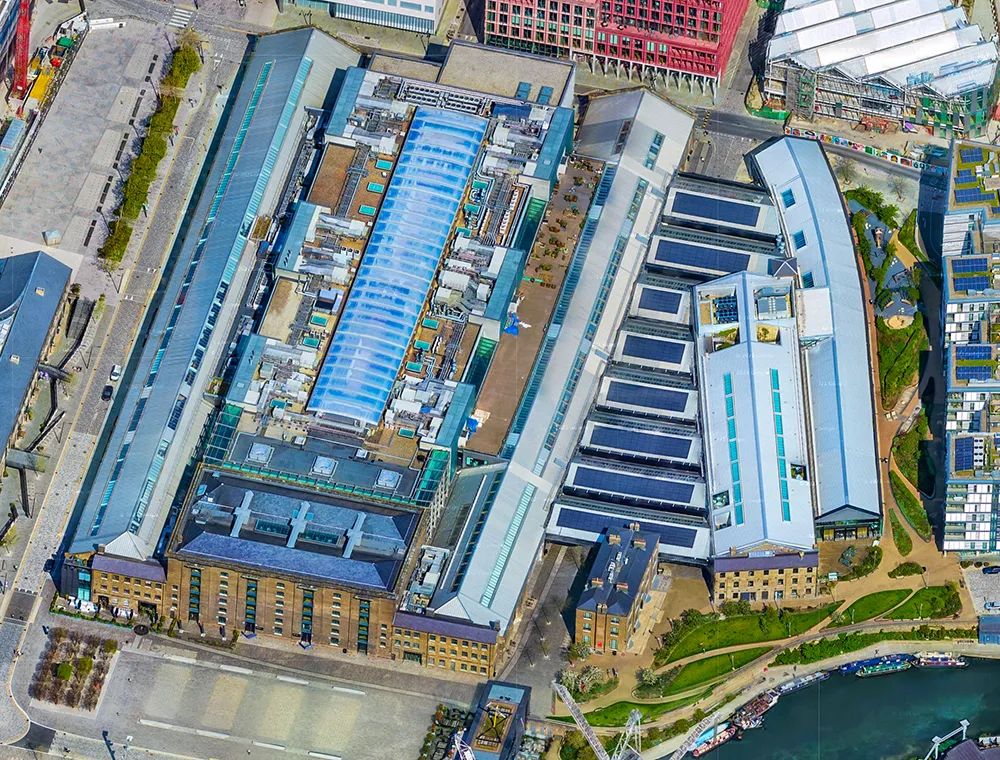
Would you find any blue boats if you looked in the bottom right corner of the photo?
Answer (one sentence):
Yes, I can see a blue boat in the bottom right corner of the photo.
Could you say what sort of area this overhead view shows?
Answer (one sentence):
This looks like an industrial area.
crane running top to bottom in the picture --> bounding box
[8,0,31,104]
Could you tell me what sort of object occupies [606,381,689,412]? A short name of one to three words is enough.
solar panel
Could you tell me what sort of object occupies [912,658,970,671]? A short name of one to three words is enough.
boat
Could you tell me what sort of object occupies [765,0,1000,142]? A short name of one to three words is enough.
building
